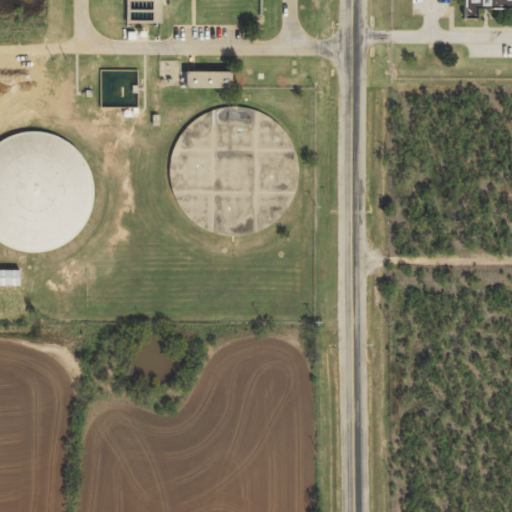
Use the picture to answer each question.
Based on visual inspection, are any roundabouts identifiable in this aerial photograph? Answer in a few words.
No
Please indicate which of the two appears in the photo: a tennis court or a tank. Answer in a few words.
tank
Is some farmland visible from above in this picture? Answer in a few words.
Yes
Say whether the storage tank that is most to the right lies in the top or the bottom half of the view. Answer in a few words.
top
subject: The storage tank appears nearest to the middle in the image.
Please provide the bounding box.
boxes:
[170,106,300,240]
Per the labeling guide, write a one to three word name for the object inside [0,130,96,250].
storage tank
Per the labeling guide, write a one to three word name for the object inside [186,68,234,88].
building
